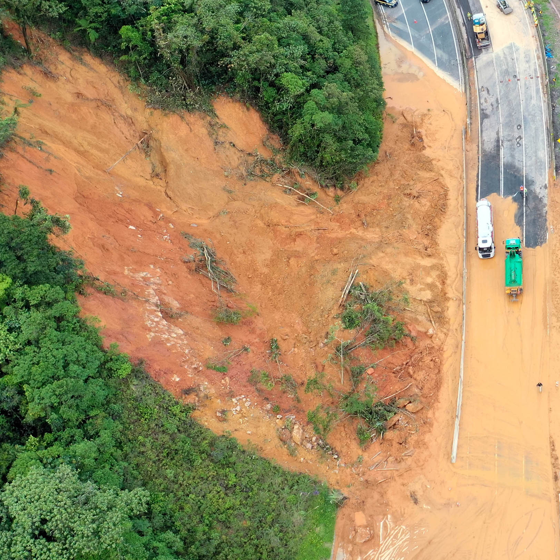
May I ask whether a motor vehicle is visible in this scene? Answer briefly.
Yes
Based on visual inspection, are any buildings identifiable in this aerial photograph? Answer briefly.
No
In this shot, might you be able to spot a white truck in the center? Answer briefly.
No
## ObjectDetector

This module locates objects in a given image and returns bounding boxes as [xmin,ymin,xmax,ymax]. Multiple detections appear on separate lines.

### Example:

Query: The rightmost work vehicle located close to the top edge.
[496,0,514,14]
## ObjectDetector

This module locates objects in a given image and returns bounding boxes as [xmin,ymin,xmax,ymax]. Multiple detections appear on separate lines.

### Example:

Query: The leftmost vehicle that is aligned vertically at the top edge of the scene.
[472,14,490,48]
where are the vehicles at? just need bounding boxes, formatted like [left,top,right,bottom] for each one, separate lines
[373,0,398,8]
[472,14,490,48]
[502,238,528,306]
[476,200,497,257]
[496,0,514,14]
